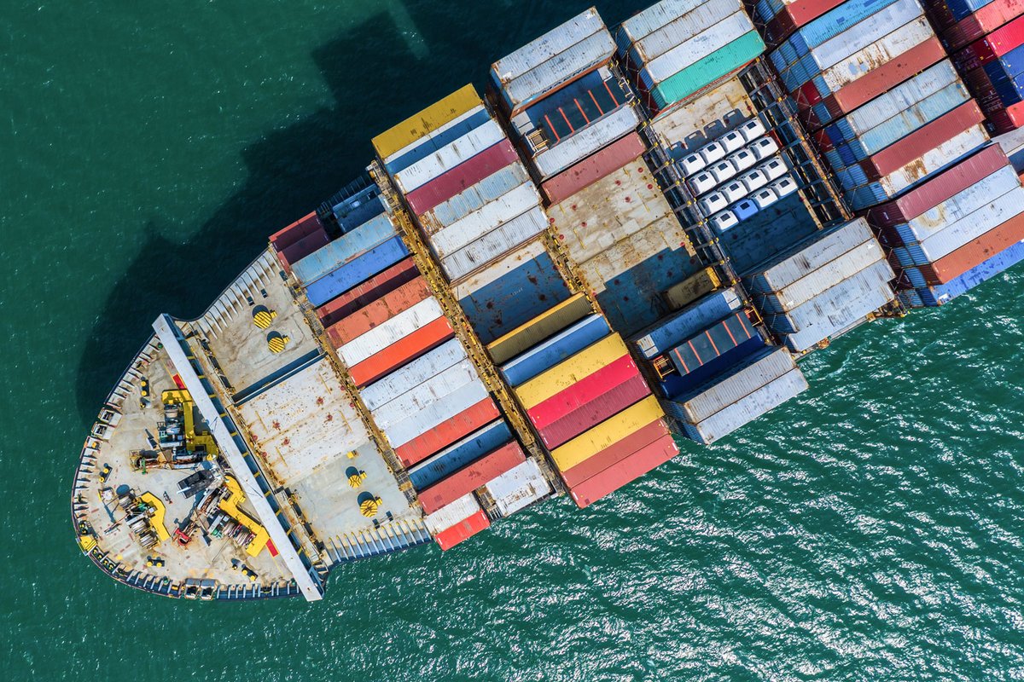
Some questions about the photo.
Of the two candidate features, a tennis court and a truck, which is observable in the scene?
truck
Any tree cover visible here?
No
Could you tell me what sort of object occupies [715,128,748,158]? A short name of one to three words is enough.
truck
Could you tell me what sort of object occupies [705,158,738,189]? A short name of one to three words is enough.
truck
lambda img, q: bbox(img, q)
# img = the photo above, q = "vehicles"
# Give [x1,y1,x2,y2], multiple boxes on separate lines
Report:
[695,139,727,170]
[716,177,748,208]
[767,173,800,204]
[673,151,706,183]
[705,158,738,189]
[755,154,789,185]
[694,189,728,220]
[684,170,717,201]
[705,208,738,239]
[727,196,759,227]
[746,135,778,166]
[734,116,767,147]
[715,128,748,158]
[747,185,779,216]
[736,166,769,196]
[725,146,758,178]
